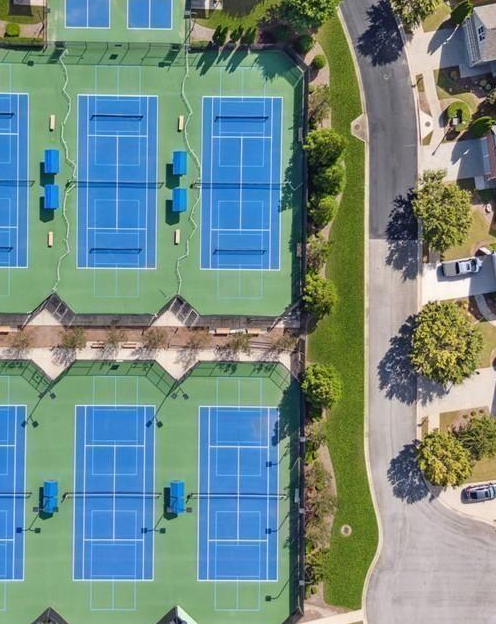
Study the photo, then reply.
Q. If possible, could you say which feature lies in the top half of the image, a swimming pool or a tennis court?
tennis court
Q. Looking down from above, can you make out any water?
No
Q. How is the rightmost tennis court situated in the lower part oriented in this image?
up and down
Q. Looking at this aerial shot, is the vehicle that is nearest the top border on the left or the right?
right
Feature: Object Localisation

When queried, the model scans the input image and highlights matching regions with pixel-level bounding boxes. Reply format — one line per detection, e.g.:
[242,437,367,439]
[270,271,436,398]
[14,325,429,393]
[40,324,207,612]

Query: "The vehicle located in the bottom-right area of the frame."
[467,484,496,503]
